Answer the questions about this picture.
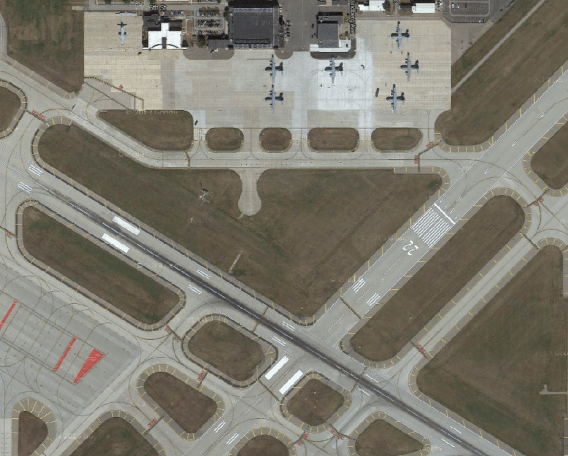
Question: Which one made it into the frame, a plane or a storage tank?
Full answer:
There is a plane in the scene.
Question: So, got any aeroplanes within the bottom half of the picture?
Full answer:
No, no aeroplane is visible within the bottom half of the picture.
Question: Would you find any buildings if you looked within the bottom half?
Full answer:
No, no building appears within the bottom half.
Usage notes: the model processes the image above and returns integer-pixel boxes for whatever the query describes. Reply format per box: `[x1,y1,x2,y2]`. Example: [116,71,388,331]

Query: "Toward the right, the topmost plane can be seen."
[392,22,411,49]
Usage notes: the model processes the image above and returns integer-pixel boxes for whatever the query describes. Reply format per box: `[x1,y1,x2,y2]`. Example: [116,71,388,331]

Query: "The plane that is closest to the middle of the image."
[265,85,284,112]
